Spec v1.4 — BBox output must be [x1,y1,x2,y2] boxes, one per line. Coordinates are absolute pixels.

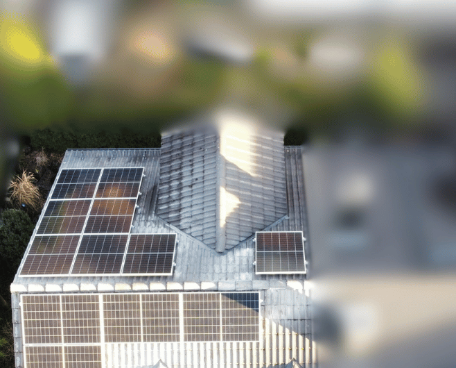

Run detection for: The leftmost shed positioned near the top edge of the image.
[184,17,260,88]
